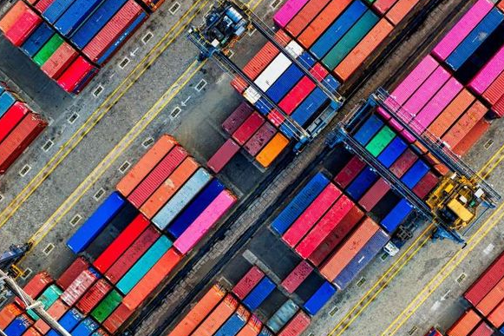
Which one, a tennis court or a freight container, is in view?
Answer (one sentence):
I can see a freight container in this picture.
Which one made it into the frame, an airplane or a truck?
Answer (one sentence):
Looking from above, you can make out a truck.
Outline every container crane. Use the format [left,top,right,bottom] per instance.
[0,236,79,336]
[334,89,502,246]
[185,0,347,152]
